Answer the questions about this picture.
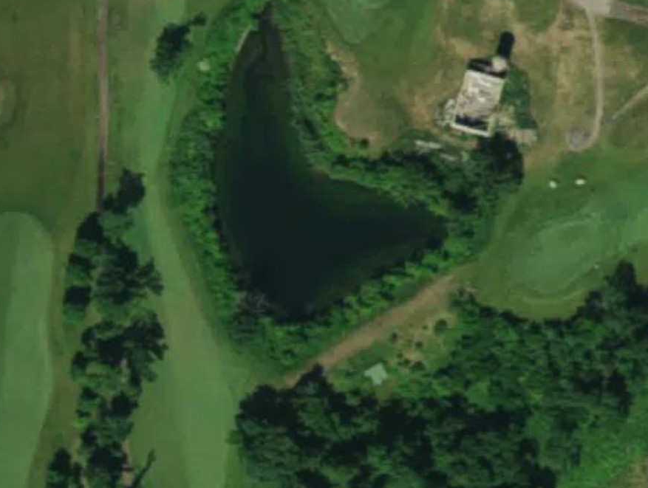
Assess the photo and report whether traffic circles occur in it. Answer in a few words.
No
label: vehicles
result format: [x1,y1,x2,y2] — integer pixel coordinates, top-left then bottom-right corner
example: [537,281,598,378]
[575,180,586,186]
[550,180,557,190]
